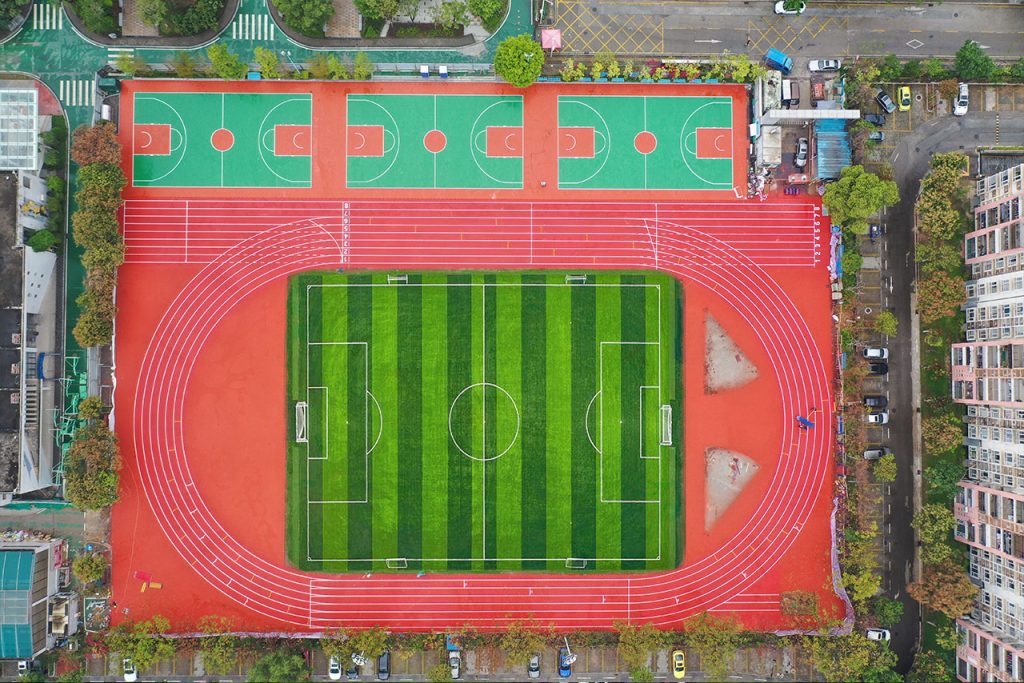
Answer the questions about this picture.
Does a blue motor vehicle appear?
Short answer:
Yes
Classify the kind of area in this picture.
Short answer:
sports ground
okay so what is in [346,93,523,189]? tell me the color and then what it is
green basketball court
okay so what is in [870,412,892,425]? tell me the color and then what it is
white vehicle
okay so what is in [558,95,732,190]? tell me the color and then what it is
green basketball court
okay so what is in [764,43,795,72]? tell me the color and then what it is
blue truck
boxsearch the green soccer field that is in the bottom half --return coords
[287,270,684,574]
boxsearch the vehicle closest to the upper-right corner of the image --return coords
[955,80,974,113]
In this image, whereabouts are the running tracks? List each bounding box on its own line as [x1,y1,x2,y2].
[110,197,846,636]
